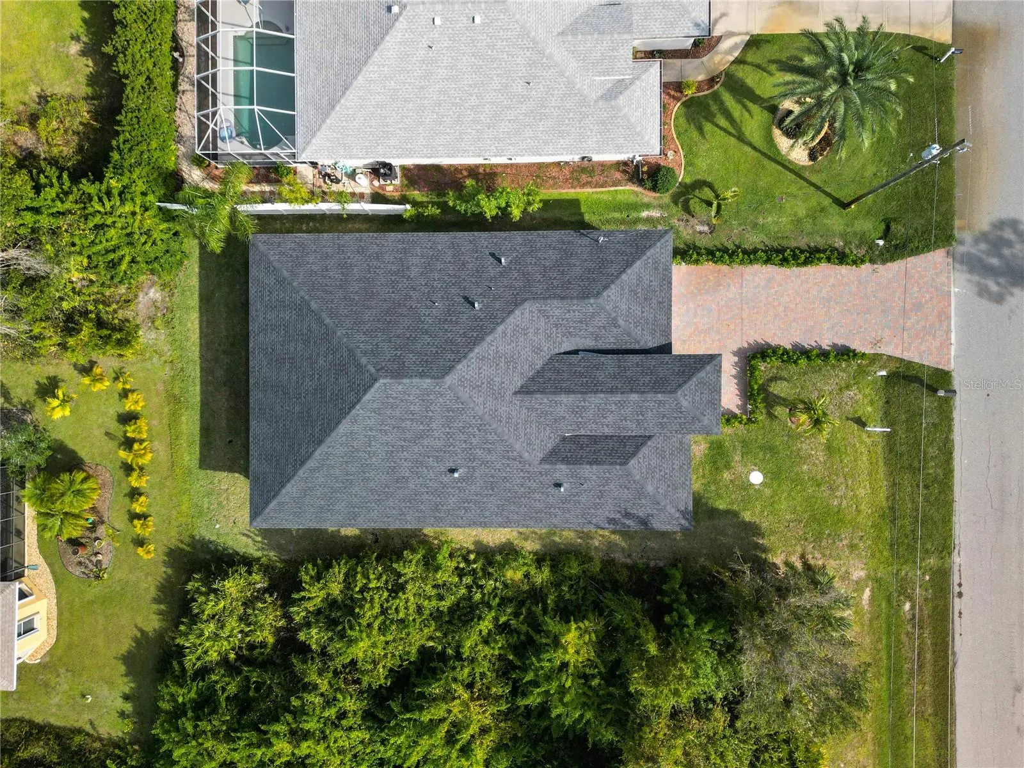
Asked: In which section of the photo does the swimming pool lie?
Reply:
top left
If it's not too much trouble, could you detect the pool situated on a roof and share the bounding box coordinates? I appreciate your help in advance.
[218,0,321,166]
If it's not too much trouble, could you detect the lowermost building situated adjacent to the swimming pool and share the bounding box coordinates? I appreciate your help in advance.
[248,229,724,533]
